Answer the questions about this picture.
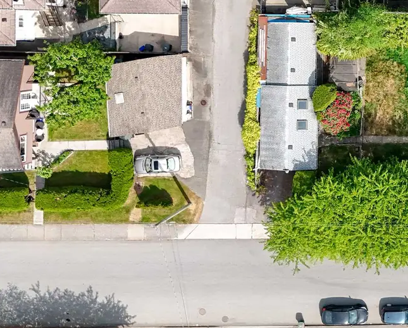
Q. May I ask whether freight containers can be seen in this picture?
No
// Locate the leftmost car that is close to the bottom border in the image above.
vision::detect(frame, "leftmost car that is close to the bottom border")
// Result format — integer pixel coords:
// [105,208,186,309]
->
[321,302,369,327]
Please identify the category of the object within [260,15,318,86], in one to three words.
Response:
building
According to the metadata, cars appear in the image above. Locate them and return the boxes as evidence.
[380,302,408,323]
[321,302,369,327]
[135,153,183,177]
